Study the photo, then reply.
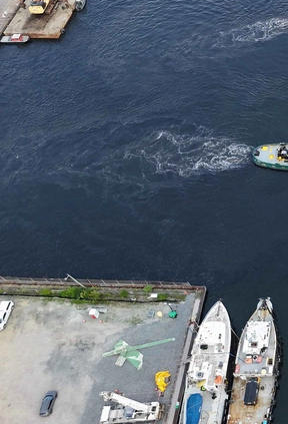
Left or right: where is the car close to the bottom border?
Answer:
left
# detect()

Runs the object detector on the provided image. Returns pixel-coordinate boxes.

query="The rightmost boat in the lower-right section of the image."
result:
[215,297,277,424]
